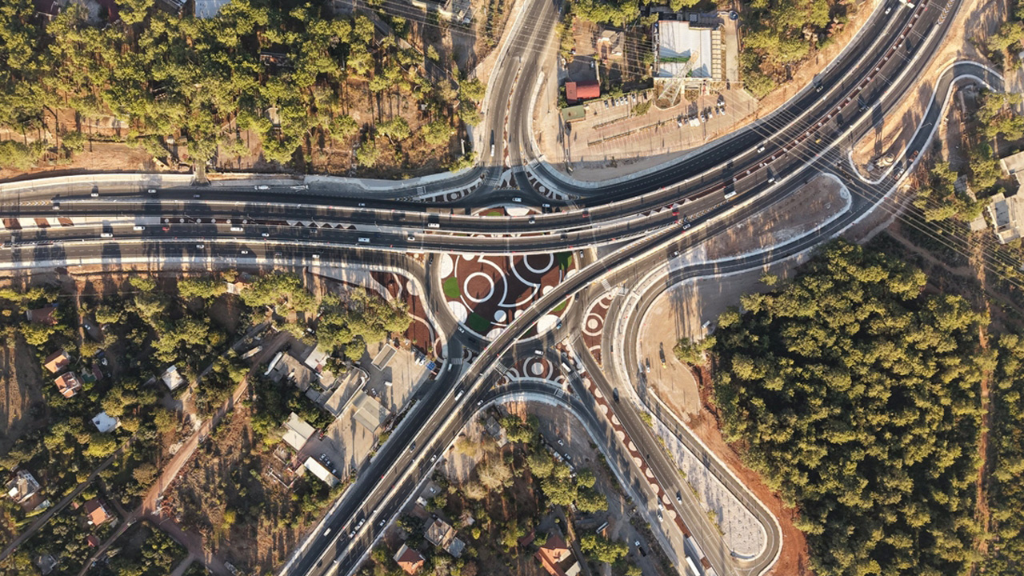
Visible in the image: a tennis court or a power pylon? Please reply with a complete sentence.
Of the two, only a power pylon appears.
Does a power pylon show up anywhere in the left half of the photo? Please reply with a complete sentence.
No, there is no power pylon in the left half of the photo.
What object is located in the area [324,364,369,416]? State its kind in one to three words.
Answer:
building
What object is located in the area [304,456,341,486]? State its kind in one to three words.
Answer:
shed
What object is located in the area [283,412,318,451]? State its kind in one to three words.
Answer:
barn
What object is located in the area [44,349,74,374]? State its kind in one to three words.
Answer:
house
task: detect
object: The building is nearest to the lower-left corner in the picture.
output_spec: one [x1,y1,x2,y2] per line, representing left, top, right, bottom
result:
[36,552,61,574]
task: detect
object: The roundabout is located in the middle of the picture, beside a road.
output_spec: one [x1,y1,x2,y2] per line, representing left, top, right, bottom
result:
[418,186,596,364]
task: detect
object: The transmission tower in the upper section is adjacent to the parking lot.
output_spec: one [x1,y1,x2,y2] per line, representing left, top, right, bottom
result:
[655,57,704,107]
